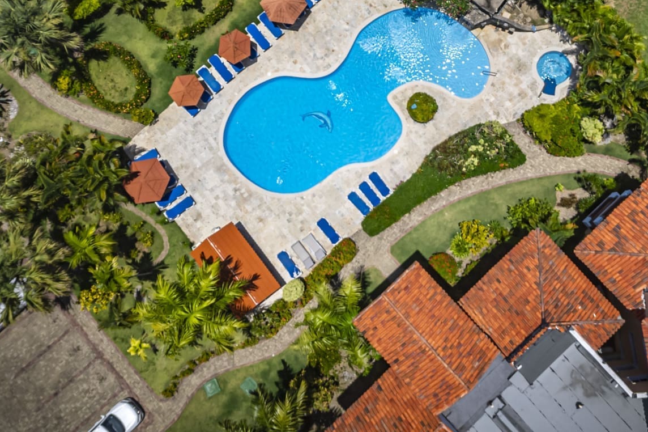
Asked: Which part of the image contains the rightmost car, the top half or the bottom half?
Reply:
bottom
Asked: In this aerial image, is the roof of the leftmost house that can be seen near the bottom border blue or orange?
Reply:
orange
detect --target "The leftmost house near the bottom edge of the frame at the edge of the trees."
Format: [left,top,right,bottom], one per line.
[327,260,501,432]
